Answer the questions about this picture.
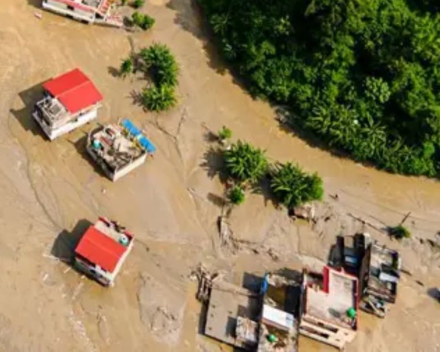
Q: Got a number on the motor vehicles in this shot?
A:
0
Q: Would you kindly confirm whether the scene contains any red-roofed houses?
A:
Yes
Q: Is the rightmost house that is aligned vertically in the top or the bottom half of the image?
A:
bottom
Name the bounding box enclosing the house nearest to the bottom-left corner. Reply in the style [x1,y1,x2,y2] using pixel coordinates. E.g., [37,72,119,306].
[75,217,133,287]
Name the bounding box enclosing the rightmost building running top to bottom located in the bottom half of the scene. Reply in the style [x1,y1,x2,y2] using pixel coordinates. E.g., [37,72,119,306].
[361,241,400,323]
